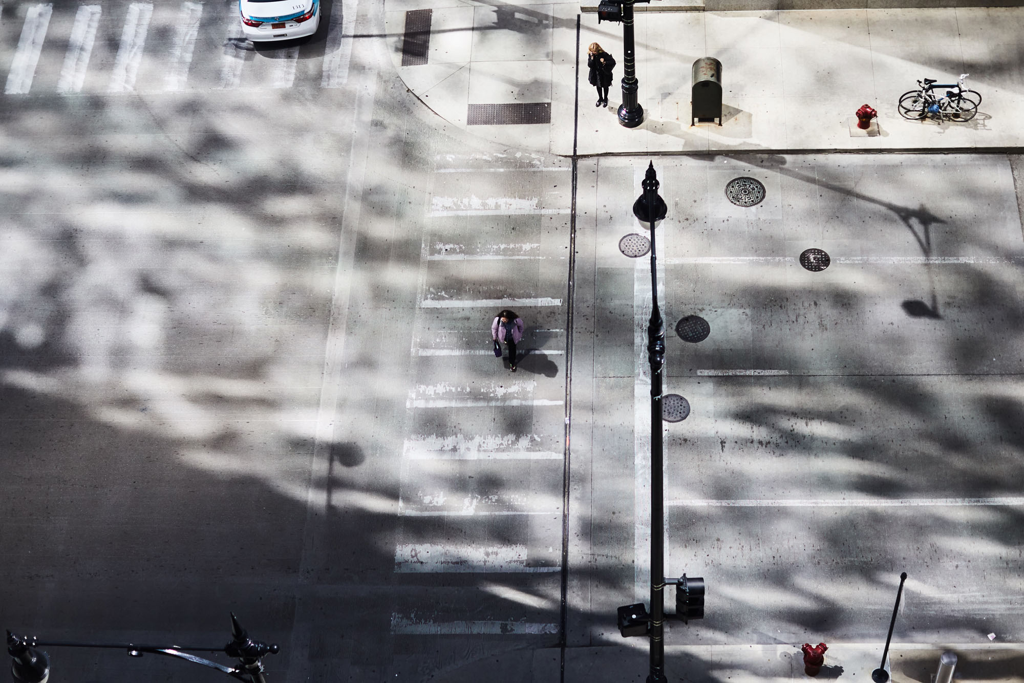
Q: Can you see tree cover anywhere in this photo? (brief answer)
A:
No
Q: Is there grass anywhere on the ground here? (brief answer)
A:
No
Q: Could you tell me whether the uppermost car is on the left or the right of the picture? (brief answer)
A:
left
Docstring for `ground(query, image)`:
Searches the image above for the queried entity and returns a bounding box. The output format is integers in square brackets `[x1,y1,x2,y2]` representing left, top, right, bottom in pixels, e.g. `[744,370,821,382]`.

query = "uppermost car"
[236,0,329,43]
